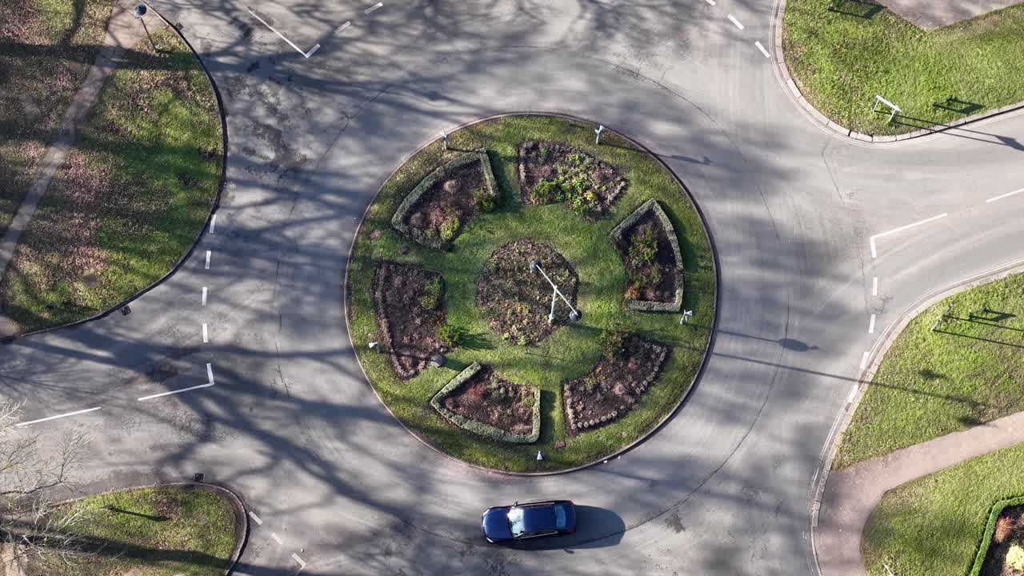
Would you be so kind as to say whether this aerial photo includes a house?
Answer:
No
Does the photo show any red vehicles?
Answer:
No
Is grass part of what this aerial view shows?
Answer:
Yes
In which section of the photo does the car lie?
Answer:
bottom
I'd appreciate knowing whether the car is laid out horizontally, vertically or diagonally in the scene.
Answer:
horizontally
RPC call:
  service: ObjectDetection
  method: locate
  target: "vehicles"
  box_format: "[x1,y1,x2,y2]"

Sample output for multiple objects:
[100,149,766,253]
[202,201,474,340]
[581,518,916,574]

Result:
[480,500,577,543]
